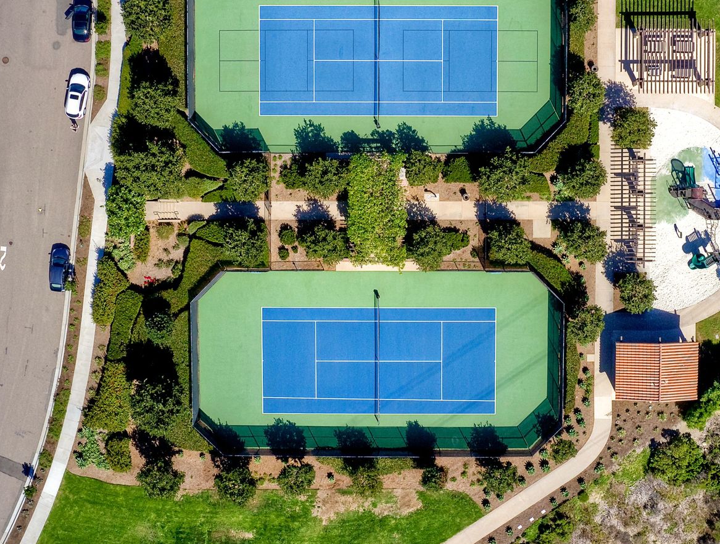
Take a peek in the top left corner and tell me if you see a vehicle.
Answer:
Yes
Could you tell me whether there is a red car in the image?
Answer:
No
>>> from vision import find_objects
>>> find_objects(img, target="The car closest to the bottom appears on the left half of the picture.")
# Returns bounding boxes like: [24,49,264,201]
[47,245,77,290]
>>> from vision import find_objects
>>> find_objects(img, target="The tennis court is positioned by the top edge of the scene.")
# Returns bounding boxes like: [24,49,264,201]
[195,0,562,154]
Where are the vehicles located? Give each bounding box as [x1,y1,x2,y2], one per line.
[64,68,91,117]
[63,0,93,41]
[47,245,77,290]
